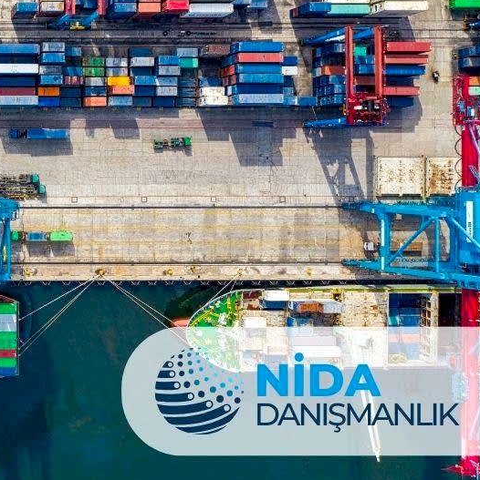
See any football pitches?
No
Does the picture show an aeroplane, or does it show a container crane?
container crane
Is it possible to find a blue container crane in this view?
Yes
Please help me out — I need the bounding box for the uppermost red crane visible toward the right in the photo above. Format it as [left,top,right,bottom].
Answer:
[302,25,387,128]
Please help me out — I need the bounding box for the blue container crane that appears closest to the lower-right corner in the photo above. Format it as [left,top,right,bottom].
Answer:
[349,78,480,480]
